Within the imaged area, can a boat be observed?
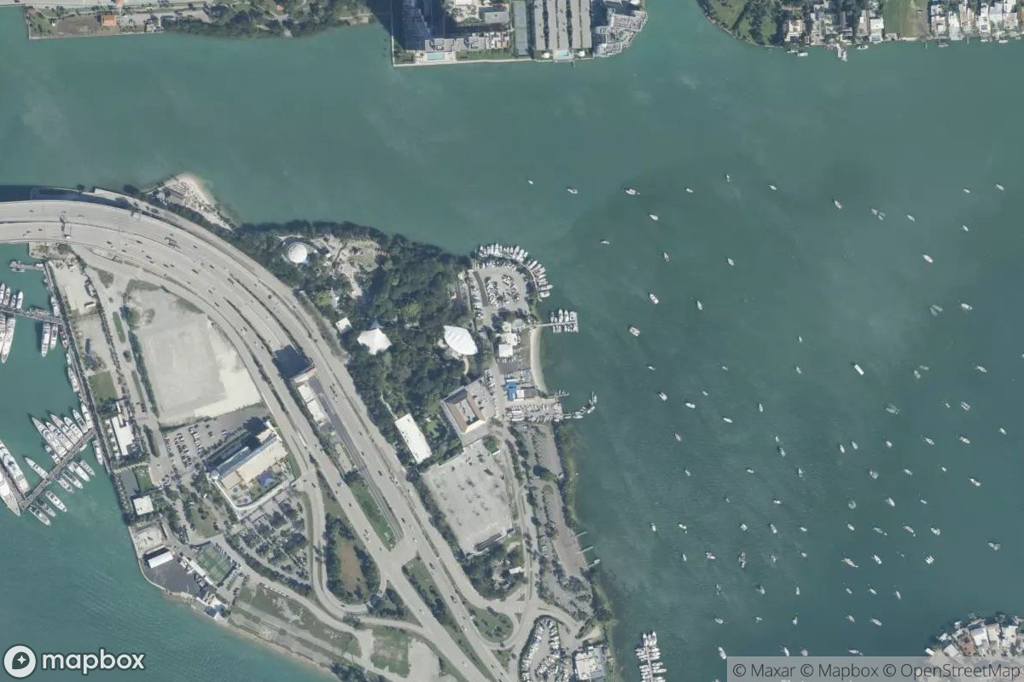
Yes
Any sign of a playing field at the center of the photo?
No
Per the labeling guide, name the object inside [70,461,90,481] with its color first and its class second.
white boat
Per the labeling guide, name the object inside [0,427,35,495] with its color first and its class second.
white boat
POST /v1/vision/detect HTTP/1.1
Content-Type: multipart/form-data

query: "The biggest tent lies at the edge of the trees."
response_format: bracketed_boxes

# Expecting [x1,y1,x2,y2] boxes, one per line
[358,328,392,355]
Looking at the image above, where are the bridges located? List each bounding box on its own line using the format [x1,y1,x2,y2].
[0,200,176,279]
